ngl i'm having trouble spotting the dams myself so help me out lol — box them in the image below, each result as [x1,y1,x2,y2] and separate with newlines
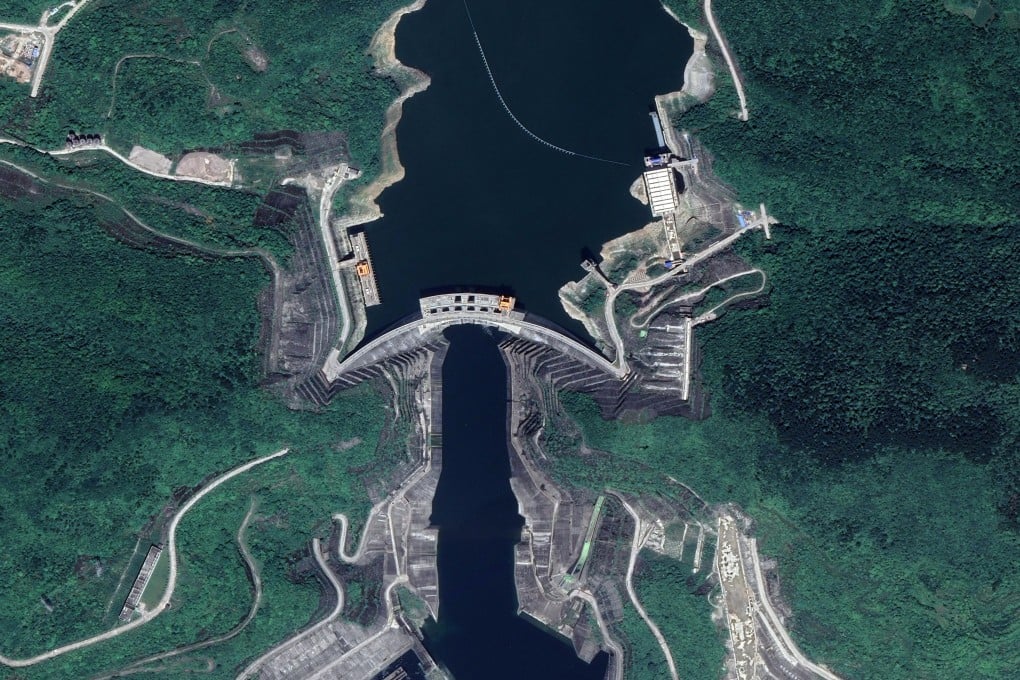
[325,293,631,382]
